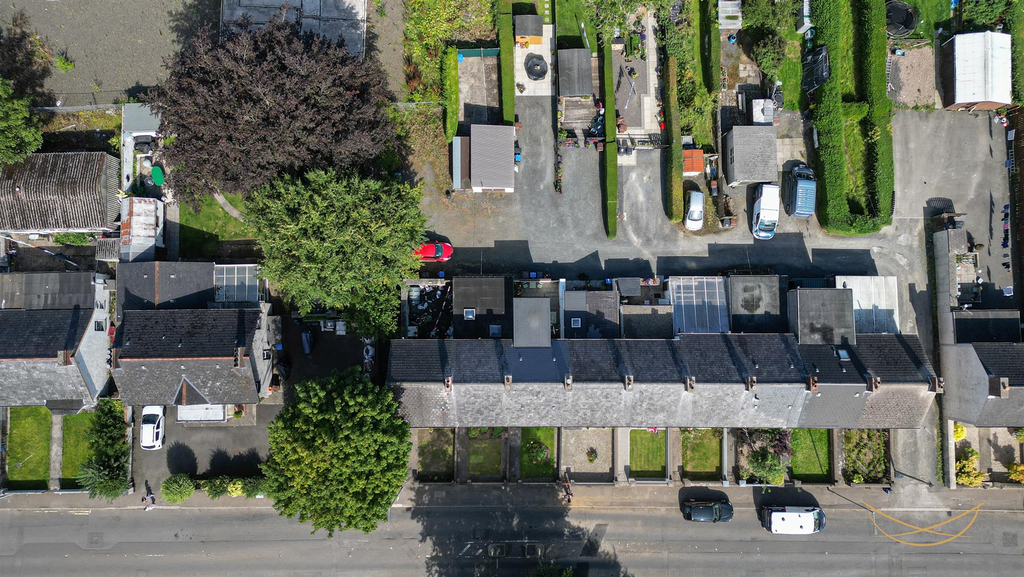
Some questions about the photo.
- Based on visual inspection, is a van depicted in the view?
Yes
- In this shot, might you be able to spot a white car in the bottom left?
Yes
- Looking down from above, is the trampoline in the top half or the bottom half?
top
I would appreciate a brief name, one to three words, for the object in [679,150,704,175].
shed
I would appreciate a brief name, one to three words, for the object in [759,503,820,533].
van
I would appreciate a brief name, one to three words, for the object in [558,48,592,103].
shed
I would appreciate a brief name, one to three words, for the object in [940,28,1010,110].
building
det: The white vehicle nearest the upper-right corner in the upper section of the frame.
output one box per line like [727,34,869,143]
[751,182,780,238]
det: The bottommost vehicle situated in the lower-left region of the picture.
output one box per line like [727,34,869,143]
[138,406,169,453]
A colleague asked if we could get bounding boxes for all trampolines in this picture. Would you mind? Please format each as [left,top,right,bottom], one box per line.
[884,0,924,39]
